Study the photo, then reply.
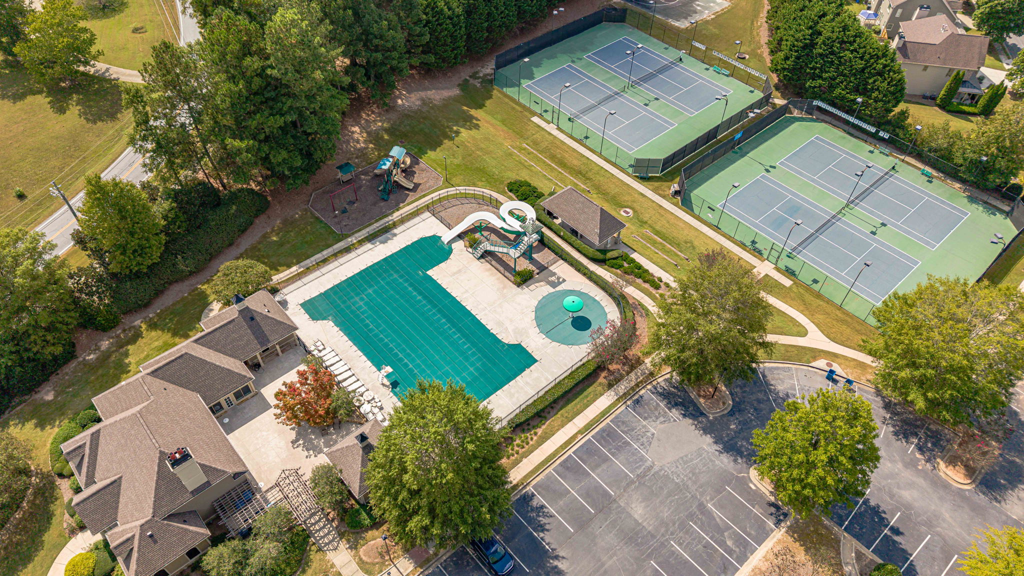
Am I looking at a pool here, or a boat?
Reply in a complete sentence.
The image shows a pool.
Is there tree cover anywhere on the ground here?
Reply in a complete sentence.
Yes, there's tree cover in this view.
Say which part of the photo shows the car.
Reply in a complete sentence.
You can find the car in the bottom area of the picture.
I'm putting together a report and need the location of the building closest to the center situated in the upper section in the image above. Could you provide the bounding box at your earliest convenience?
[541,186,628,257]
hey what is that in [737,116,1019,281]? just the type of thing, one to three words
tennis court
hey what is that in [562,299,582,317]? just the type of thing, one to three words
fountain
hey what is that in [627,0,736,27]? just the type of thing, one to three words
basketball court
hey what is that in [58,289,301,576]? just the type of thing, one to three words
building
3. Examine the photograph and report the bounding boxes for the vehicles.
[469,525,516,576]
